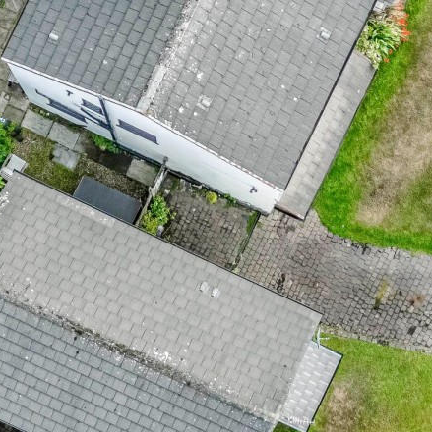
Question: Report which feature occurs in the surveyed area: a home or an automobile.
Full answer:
This aerial view contains a home.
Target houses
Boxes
[0,0,379,220]
[0,173,344,432]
